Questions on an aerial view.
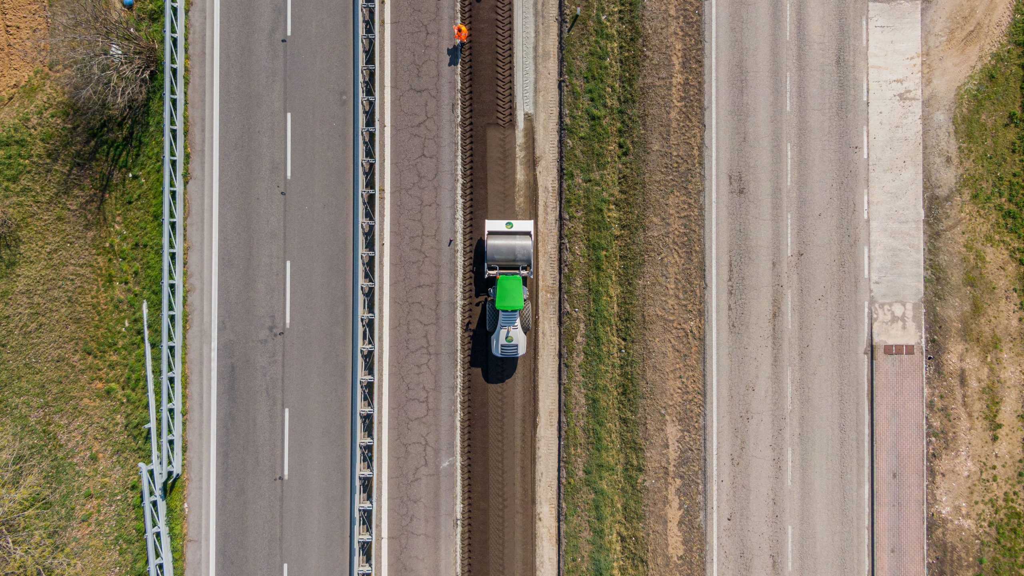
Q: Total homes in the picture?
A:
0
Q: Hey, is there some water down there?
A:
No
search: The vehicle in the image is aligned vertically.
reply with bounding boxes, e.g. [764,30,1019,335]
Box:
[480,220,533,357]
